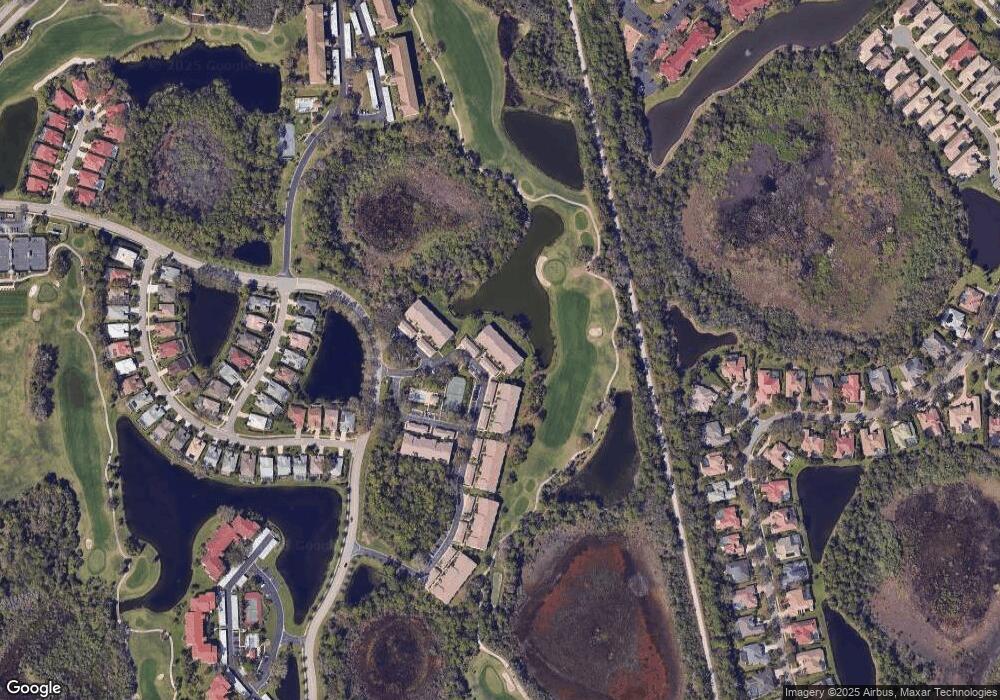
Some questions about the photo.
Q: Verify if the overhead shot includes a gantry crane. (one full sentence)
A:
No, I find no gantry crane anywhere in the image.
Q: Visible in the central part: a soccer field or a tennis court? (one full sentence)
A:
Looking in the central part, you will find a tennis court.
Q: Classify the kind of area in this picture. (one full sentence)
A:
The area seen from above is a residential area.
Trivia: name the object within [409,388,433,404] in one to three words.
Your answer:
swimming pool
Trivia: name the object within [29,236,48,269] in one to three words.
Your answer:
tennis court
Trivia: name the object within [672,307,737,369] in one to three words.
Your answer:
pond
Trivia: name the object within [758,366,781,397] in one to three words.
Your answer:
house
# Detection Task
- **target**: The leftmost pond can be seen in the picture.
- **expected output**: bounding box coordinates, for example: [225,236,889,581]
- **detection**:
[0,97,38,193]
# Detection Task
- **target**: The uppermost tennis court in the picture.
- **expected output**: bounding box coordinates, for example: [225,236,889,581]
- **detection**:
[281,123,295,159]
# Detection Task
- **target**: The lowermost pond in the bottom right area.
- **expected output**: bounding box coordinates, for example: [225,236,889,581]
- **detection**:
[822,602,878,700]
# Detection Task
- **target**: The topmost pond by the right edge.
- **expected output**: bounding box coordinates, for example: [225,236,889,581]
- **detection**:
[960,186,1000,271]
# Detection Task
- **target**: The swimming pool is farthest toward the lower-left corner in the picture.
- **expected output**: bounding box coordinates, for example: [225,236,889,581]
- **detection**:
[245,633,259,648]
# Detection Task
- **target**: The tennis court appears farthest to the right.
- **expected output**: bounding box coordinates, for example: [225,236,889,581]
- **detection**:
[447,376,467,408]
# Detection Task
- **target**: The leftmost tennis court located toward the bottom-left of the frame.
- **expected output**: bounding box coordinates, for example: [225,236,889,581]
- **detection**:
[244,593,262,624]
